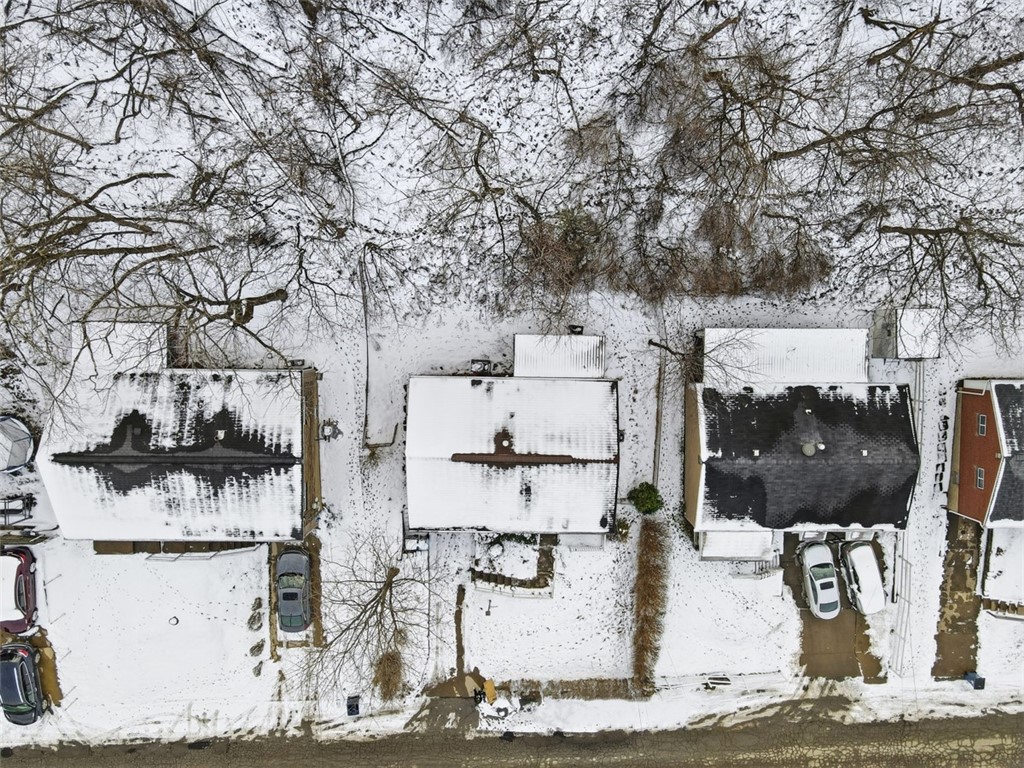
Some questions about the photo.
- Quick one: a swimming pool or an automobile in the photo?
automobile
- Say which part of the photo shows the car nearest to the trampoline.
bottom left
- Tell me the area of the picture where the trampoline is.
left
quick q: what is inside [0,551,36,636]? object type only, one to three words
car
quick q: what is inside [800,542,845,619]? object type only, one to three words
car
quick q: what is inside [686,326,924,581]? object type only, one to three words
house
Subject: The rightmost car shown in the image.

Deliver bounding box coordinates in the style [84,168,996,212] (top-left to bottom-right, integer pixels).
[840,540,893,617]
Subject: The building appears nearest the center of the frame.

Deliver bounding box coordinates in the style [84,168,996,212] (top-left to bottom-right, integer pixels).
[404,334,622,553]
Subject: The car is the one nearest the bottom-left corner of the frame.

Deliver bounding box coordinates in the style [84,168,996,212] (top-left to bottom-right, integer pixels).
[0,646,42,729]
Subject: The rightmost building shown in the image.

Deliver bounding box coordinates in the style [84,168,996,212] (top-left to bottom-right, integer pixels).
[947,379,1024,528]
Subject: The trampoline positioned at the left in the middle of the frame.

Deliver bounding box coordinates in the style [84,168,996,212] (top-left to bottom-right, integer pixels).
[0,410,41,478]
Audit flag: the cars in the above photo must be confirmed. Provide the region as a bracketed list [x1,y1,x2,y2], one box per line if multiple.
[269,551,311,633]
[840,540,893,617]
[0,551,36,636]
[0,646,42,729]
[800,542,845,619]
